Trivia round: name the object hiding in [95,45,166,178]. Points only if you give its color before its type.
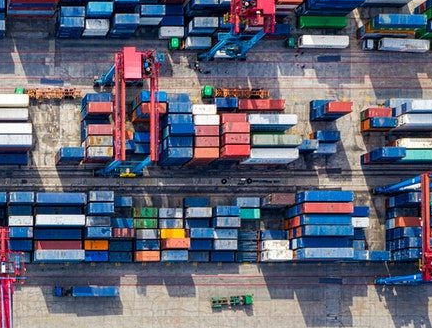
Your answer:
red container crane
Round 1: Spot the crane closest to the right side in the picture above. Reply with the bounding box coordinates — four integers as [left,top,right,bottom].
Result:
[376,171,432,286]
